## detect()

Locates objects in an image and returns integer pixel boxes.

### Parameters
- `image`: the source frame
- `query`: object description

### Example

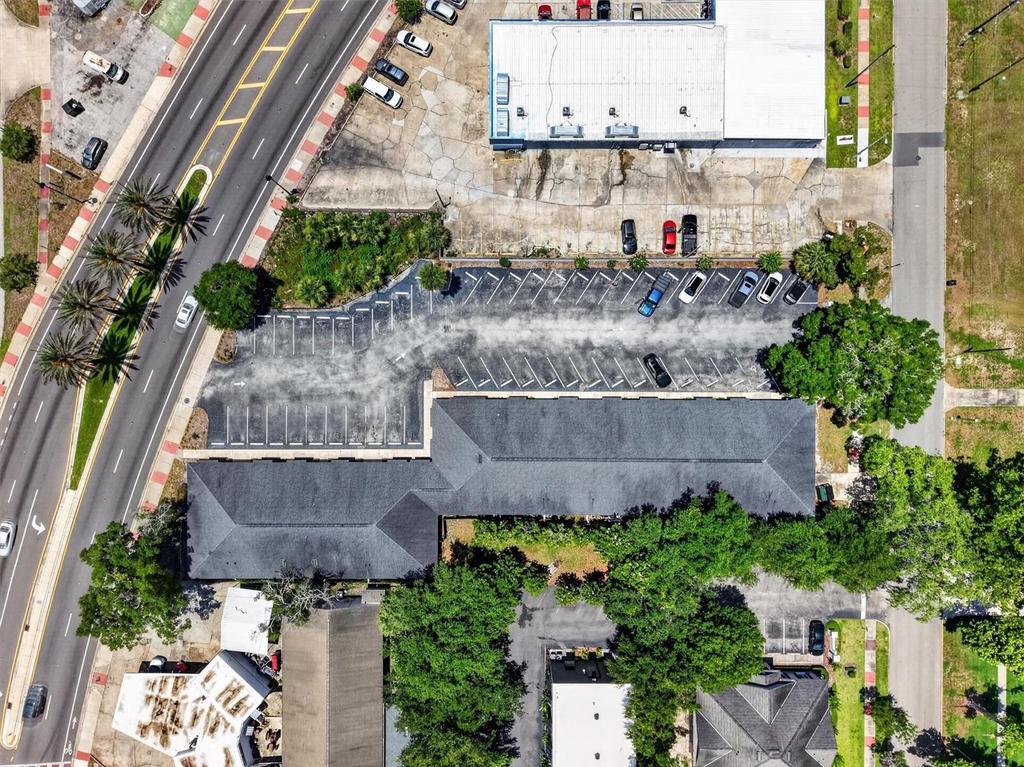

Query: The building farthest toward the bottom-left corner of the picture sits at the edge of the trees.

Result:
[111,650,273,767]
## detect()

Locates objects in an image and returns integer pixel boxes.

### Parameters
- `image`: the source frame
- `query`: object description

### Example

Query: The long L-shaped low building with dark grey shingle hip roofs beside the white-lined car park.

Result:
[181,395,816,580]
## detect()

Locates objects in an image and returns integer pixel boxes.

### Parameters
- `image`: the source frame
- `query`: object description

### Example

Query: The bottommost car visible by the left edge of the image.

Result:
[22,681,49,723]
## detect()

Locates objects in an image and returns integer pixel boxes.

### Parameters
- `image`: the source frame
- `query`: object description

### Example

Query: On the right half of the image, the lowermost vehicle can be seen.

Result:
[807,619,826,655]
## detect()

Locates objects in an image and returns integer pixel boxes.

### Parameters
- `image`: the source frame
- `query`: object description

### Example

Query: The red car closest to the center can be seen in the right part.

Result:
[661,221,678,255]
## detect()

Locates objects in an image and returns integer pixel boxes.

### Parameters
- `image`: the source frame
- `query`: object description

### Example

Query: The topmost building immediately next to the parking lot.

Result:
[489,0,825,152]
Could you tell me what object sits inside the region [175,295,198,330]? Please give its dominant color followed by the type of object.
white car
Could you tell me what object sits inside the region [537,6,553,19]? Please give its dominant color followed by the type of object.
red vehicle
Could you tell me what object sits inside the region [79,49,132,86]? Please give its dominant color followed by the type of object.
white van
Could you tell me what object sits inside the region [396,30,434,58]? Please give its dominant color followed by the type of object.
white car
